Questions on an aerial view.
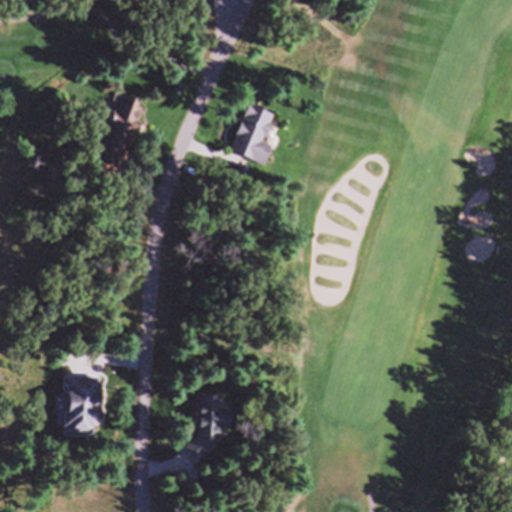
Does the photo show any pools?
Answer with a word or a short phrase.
No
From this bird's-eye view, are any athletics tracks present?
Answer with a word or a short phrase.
No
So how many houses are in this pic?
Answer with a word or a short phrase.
five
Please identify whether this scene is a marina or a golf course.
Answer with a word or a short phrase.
golf course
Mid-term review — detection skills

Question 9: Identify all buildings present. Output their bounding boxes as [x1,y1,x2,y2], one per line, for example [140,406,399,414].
[197,396,234,440]
[13,146,54,192]
[56,376,100,436]
[230,100,276,166]
[108,90,146,141]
